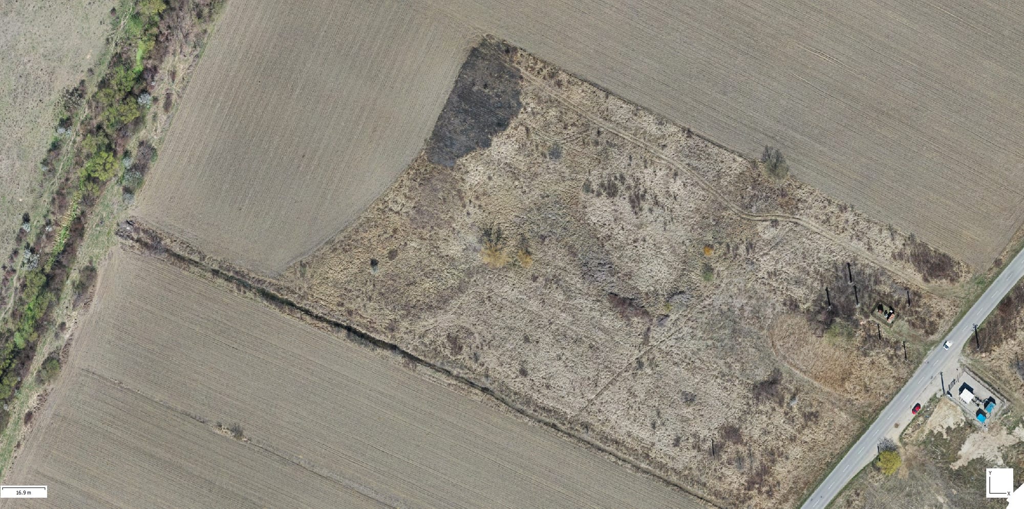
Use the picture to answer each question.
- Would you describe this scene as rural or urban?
rural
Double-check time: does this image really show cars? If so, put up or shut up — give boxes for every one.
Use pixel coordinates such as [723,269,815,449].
[912,404,921,414]
[943,340,952,351]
